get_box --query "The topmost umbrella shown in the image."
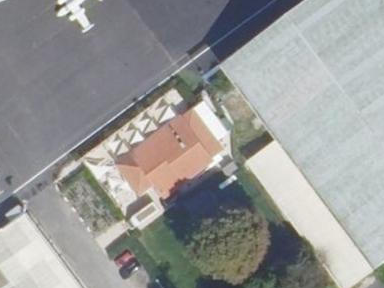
[162,86,183,108]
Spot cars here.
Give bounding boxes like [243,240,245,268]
[119,261,140,277]
[114,252,134,267]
